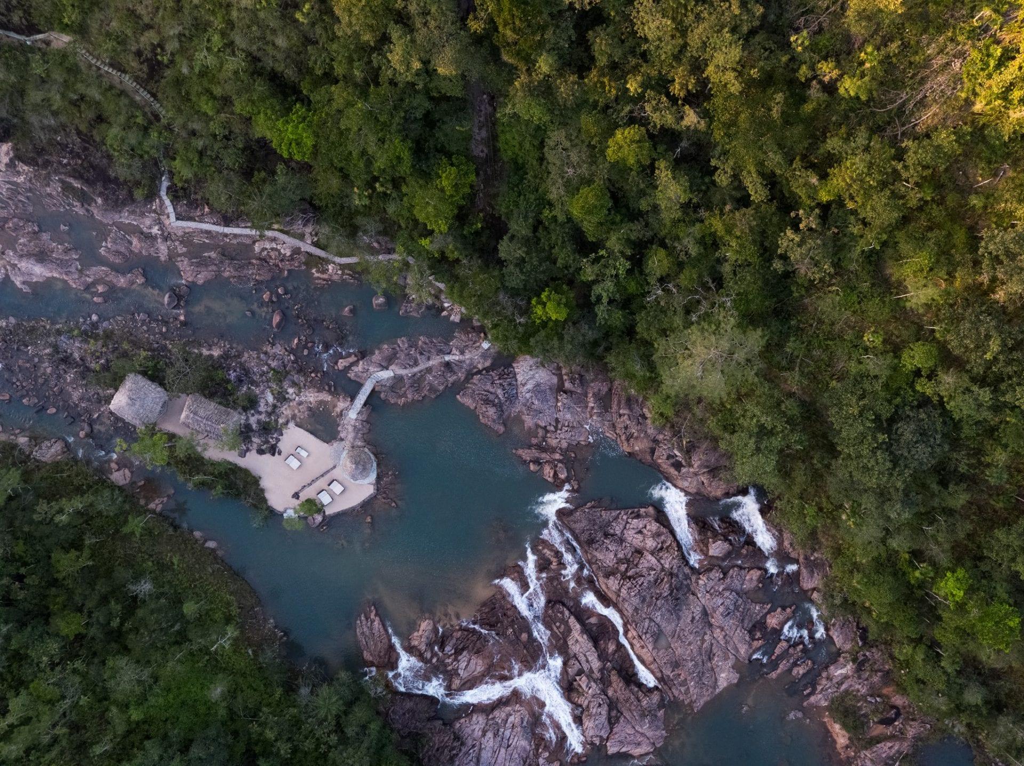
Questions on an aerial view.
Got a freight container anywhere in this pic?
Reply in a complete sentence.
No, no freight container is visible in the scene.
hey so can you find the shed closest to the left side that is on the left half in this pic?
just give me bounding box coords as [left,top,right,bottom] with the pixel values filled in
[107,367,175,433]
